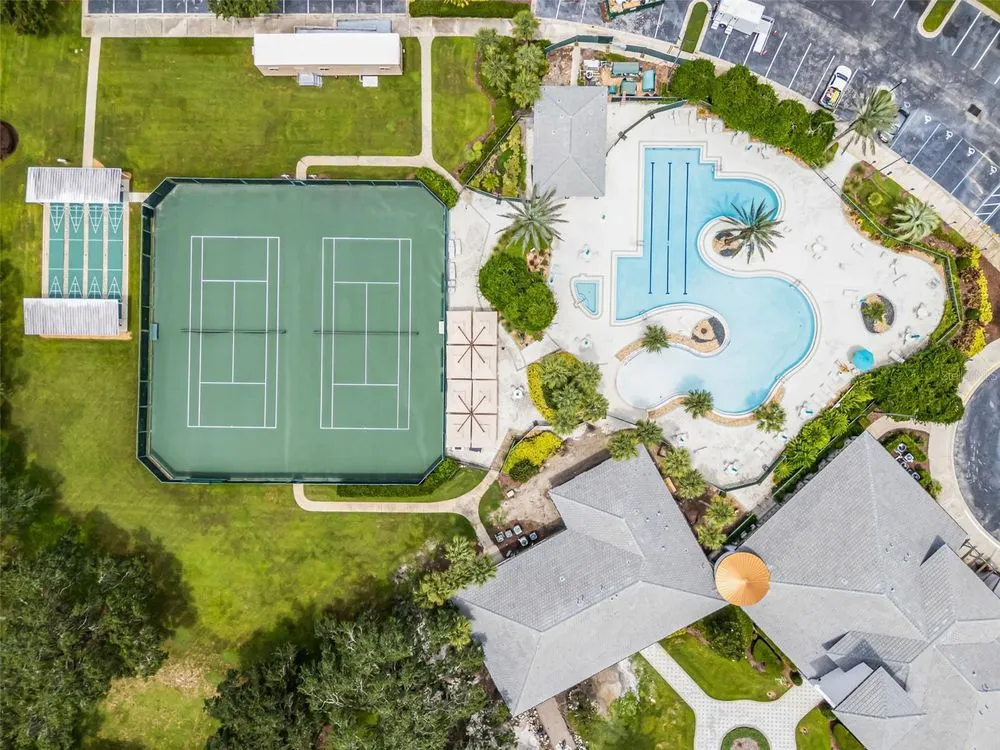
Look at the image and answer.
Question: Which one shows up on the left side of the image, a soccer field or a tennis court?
tennis court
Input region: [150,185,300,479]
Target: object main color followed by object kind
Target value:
green tennis court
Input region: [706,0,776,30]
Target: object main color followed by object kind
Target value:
white truck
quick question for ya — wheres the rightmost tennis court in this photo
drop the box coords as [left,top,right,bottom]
[300,187,446,480]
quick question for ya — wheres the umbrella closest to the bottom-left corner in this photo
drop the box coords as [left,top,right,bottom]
[445,378,498,448]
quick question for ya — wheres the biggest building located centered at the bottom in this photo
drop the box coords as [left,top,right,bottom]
[453,444,725,717]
